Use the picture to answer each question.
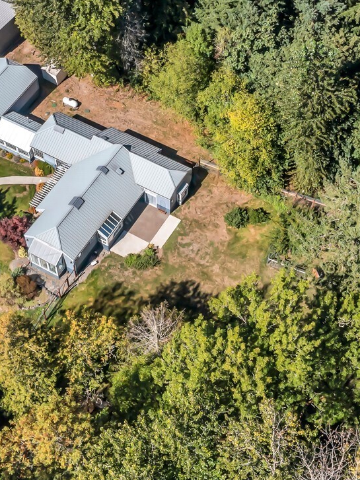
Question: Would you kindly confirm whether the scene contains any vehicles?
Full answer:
No, no vehicle is visible in the scene.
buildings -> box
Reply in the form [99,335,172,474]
[0,0,28,55]
[0,57,38,115]
[24,112,193,277]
